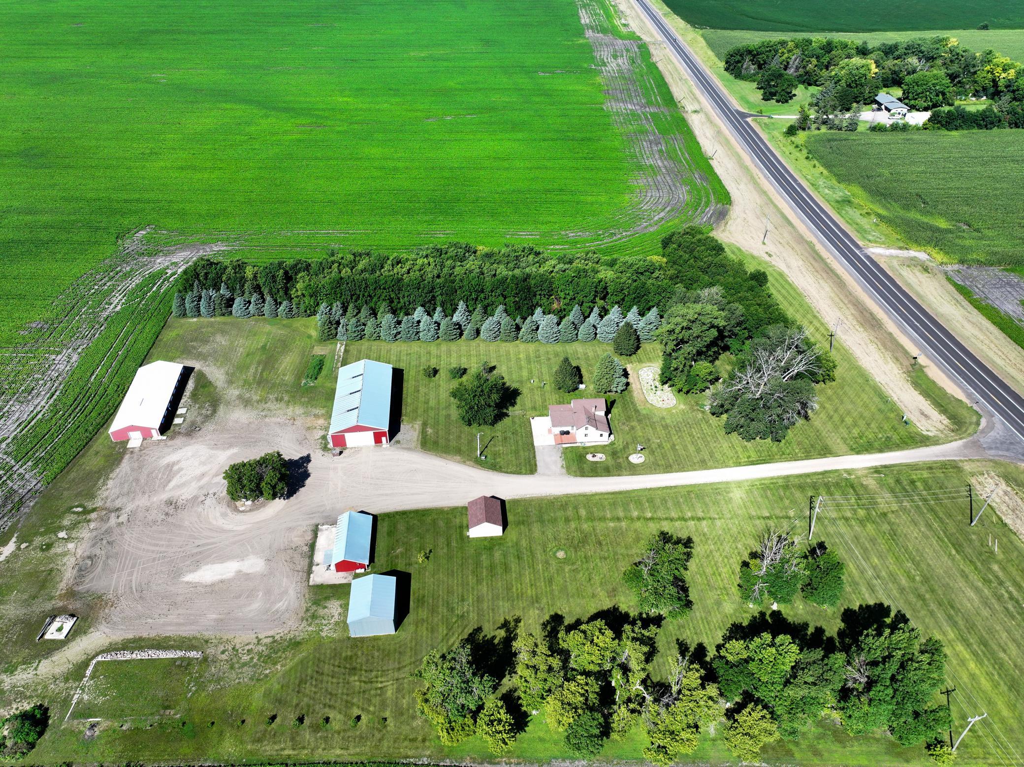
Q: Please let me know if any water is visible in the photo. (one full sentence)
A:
No, the scene doesn't show any water.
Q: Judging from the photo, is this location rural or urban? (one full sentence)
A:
This place is rural.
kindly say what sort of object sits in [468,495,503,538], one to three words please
building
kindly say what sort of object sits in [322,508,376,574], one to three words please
shed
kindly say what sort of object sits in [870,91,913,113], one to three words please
house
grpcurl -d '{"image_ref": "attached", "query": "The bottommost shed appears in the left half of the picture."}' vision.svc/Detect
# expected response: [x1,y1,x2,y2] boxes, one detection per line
[347,572,397,636]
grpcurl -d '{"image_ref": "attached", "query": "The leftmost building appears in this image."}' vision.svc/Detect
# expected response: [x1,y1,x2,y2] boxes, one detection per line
[109,359,186,441]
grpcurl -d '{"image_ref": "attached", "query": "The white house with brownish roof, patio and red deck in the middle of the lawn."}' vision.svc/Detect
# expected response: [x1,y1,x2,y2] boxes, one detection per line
[548,398,611,442]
